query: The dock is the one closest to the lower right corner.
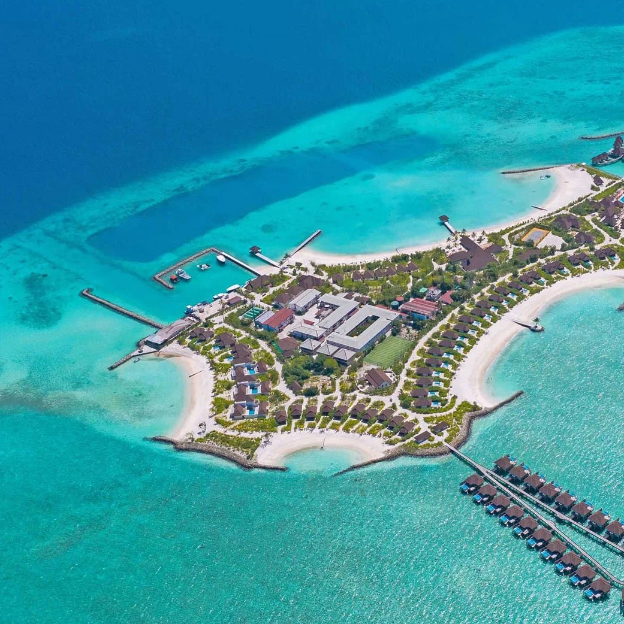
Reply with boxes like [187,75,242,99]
[441,441,624,585]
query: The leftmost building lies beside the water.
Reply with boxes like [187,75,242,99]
[145,318,192,349]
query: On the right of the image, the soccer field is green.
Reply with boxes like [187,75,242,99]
[366,337,412,367]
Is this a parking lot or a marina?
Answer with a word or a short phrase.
marina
